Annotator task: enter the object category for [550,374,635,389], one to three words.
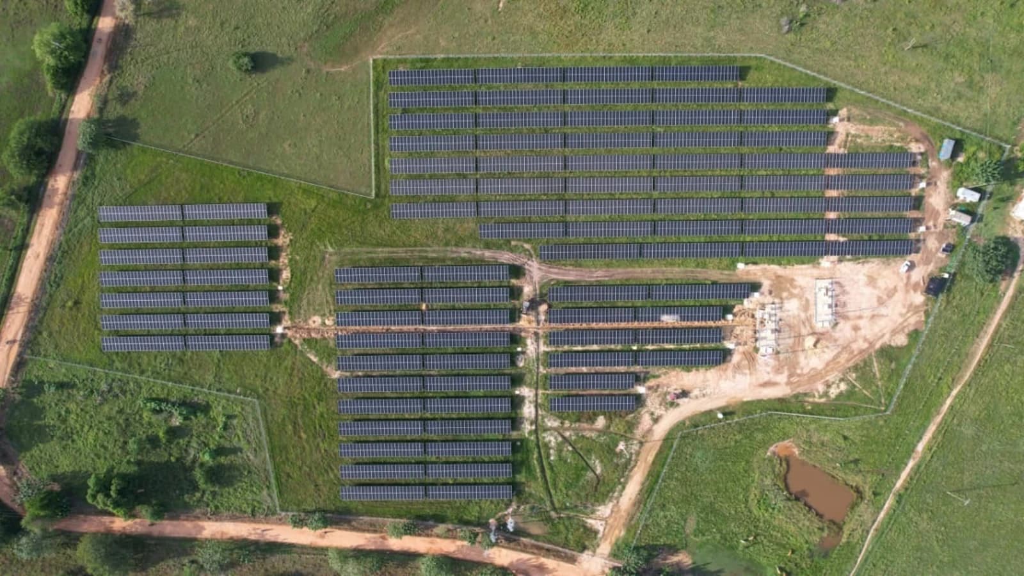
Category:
solar array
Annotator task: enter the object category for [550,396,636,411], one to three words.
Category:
solar array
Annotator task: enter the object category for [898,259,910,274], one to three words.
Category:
vehicle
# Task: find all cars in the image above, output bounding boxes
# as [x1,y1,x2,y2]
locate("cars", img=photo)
[941,242,952,255]
[898,259,910,274]
[941,272,949,286]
